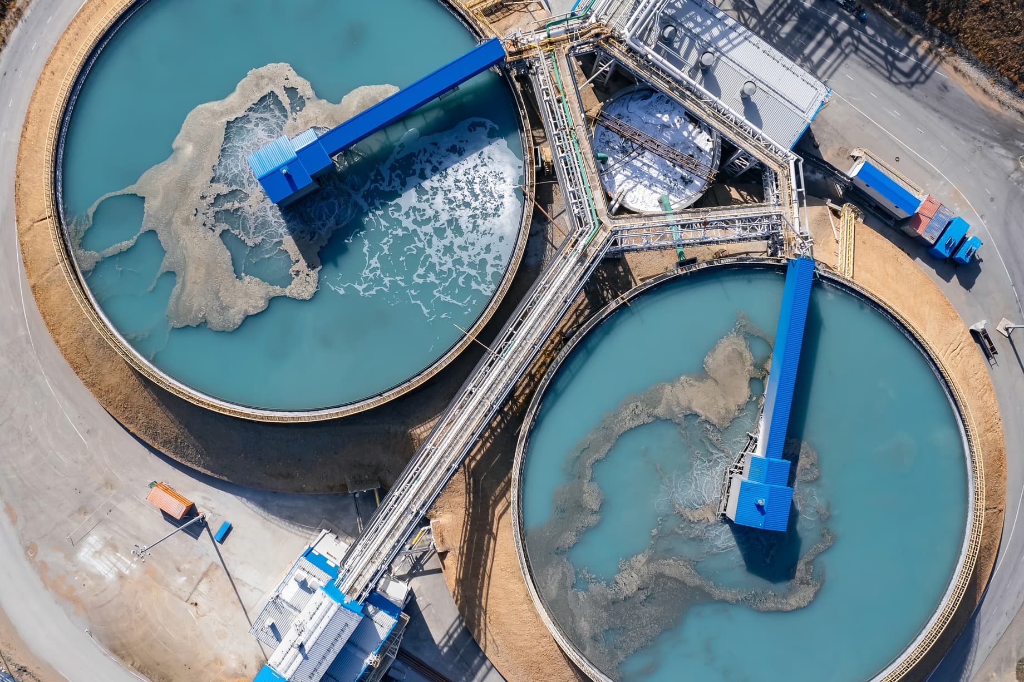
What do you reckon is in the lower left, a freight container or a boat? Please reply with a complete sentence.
What appears in the lower left is a freight container.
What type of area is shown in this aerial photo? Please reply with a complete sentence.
The picture captures an industrial area.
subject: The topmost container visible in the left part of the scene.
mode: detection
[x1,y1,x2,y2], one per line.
[146,483,194,520]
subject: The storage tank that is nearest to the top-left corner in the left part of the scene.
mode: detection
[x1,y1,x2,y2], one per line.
[43,0,536,424]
